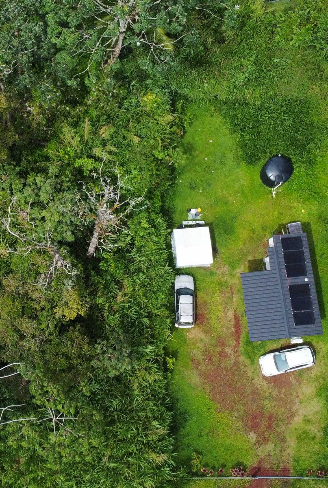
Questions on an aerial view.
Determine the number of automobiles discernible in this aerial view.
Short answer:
two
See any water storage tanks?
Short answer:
Yes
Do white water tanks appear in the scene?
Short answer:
No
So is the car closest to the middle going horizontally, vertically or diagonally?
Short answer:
vertically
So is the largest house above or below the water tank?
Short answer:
below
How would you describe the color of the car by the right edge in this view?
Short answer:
white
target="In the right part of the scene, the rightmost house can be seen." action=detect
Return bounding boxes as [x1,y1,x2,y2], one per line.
[241,234,324,341]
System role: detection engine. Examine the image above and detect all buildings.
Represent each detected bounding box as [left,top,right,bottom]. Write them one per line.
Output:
[241,234,324,341]
[170,226,213,269]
